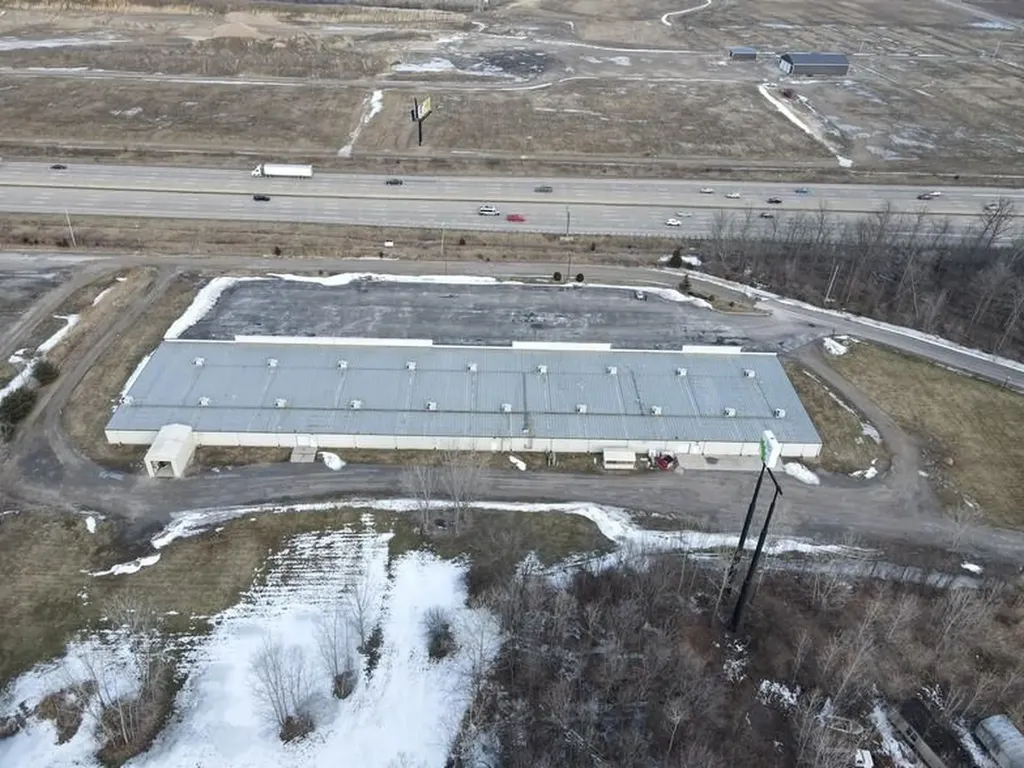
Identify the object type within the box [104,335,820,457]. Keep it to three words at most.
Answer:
warehouse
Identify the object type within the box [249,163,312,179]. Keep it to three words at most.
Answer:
vehicle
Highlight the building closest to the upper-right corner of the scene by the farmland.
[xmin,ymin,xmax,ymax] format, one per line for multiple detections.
[781,54,852,77]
